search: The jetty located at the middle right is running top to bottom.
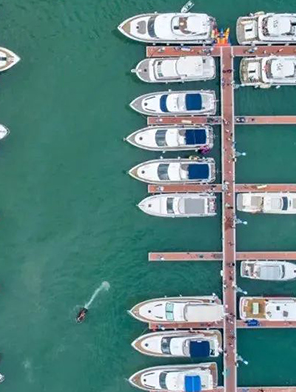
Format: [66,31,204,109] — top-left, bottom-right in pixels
[220,46,236,392]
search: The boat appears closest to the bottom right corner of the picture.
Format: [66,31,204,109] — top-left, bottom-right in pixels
[236,295,296,321]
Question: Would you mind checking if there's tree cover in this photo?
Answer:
No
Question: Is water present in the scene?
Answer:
Yes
